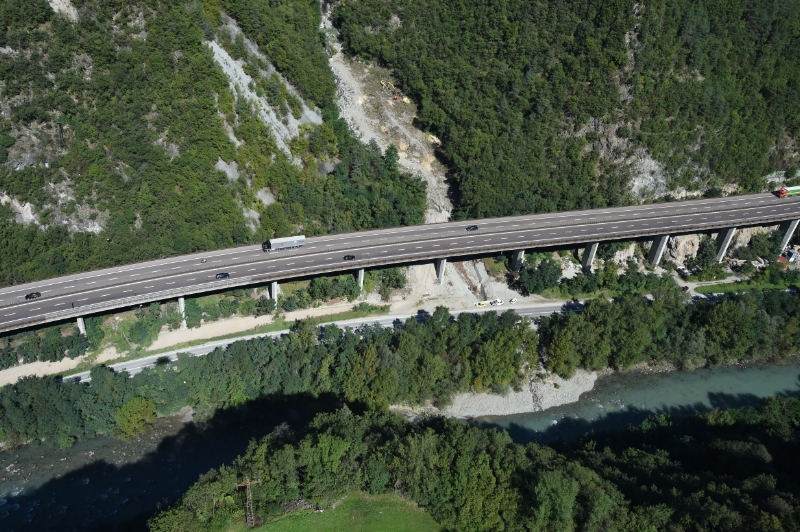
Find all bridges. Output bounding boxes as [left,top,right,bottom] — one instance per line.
[0,188,800,341]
